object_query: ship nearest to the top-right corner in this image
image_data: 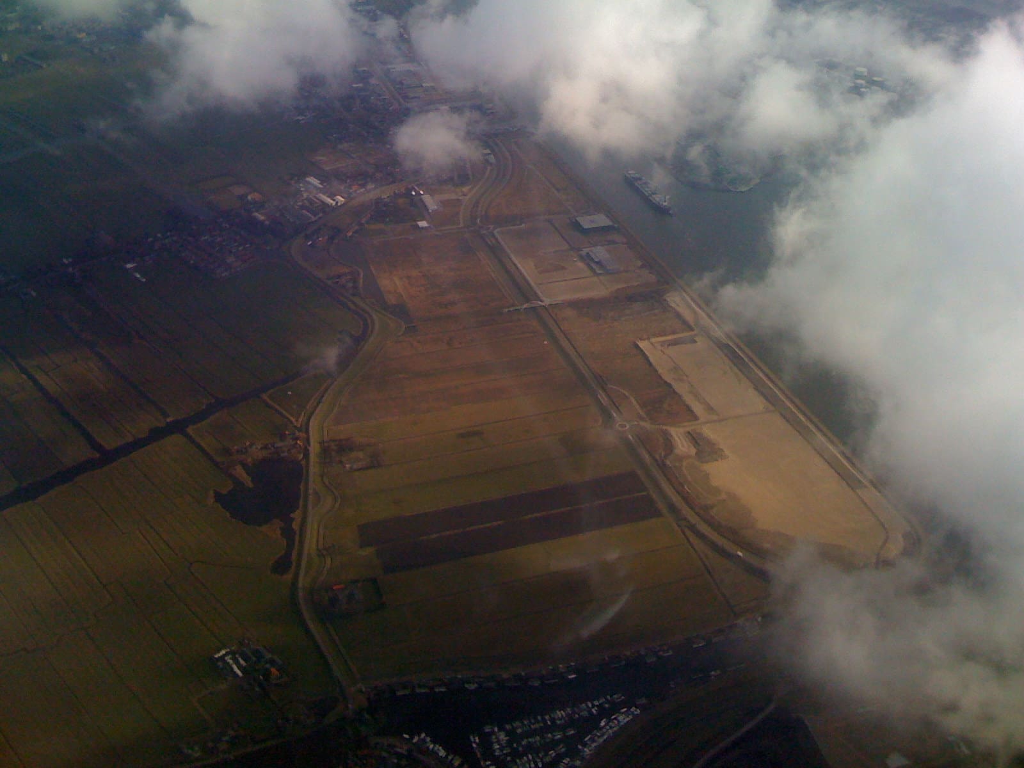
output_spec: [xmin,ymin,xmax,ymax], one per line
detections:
[622,168,677,213]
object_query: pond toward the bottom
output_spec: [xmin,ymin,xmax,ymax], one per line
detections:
[214,458,302,574]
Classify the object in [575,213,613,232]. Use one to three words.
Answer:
building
